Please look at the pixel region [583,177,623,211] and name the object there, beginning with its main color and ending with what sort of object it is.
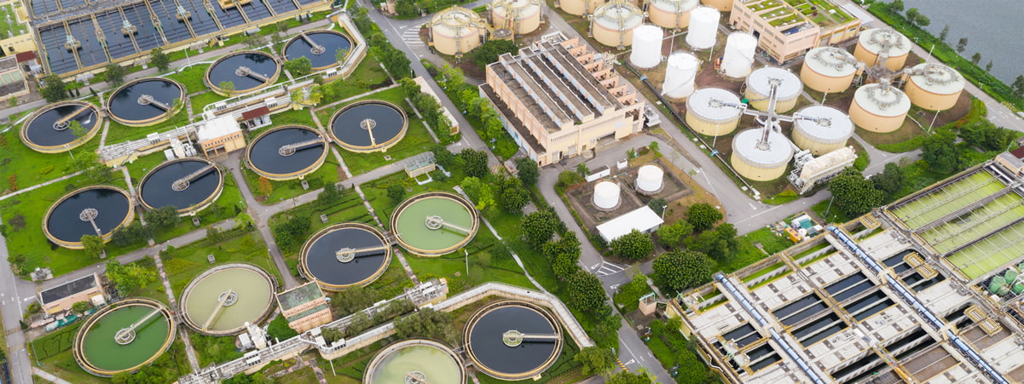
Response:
white storage tank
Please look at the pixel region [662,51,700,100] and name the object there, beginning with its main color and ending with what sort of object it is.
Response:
white storage tank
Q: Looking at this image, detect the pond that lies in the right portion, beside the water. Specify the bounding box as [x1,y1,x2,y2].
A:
[881,155,1024,285]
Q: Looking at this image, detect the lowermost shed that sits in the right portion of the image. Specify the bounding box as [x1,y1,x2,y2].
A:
[639,292,658,315]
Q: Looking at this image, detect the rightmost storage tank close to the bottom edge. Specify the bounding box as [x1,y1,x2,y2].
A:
[462,297,564,381]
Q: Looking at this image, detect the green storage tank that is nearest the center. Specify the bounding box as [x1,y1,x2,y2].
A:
[390,189,479,256]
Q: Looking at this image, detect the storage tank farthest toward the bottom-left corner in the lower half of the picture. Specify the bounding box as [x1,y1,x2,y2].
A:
[73,296,178,378]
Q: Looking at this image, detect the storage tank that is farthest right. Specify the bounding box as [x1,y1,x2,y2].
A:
[899,62,965,111]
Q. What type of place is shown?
industrial area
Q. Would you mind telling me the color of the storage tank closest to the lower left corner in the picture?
green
